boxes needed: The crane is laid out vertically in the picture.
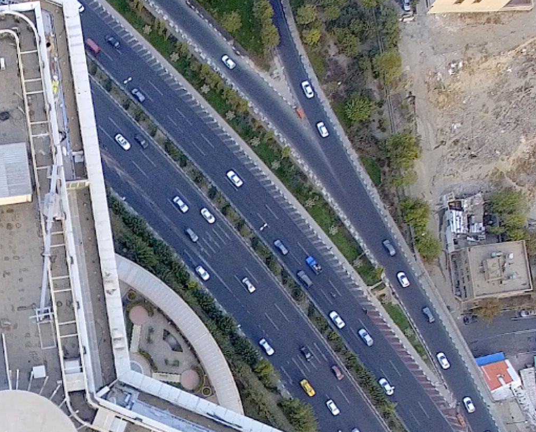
[35,153,59,323]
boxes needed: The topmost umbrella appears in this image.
[130,305,149,323]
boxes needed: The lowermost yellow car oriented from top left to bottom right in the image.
[299,378,316,397]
